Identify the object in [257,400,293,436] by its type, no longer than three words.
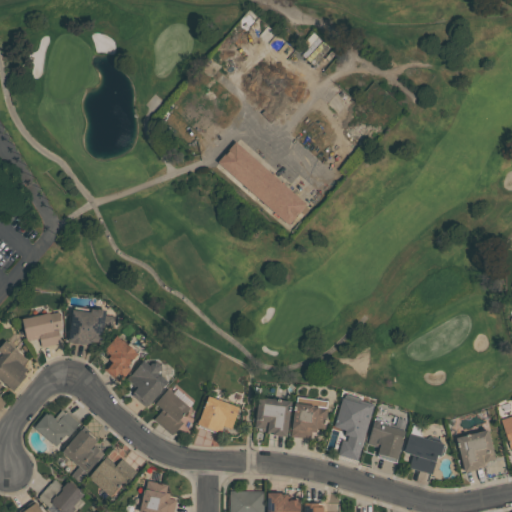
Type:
house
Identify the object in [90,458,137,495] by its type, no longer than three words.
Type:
house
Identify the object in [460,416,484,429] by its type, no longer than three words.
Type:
swimming pool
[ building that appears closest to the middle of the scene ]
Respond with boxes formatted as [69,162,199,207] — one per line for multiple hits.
[218,140,308,224]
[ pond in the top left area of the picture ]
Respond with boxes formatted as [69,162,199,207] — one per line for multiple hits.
[84,54,136,158]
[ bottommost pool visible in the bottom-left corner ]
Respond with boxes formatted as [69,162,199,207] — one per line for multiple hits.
[30,432,47,452]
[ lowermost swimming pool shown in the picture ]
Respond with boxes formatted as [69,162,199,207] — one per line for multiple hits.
[440,458,452,478]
